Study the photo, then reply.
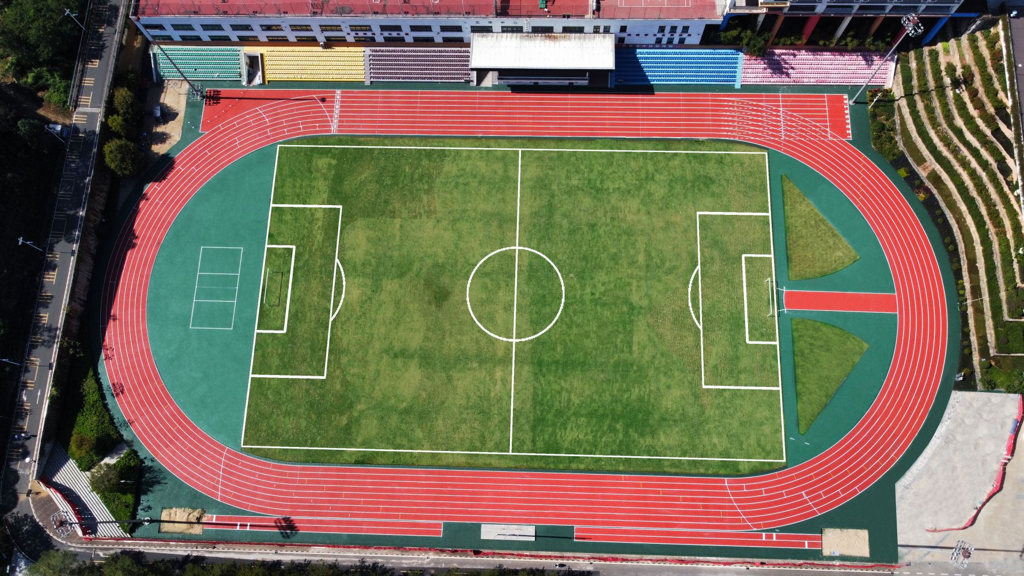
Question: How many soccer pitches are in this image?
1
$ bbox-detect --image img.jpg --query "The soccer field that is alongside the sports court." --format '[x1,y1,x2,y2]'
[241,137,788,474]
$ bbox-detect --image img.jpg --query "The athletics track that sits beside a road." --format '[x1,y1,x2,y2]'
[100,88,946,531]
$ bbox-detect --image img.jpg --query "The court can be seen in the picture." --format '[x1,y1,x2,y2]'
[190,247,243,329]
